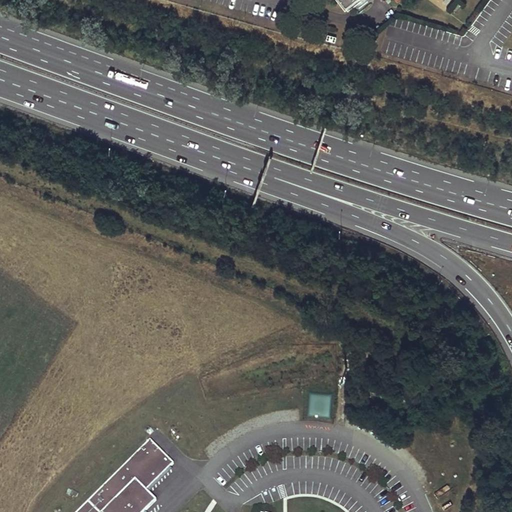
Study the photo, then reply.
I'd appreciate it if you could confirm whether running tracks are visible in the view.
No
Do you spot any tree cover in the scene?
Yes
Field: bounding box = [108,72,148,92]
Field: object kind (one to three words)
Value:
truck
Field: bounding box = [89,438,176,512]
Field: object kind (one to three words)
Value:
building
